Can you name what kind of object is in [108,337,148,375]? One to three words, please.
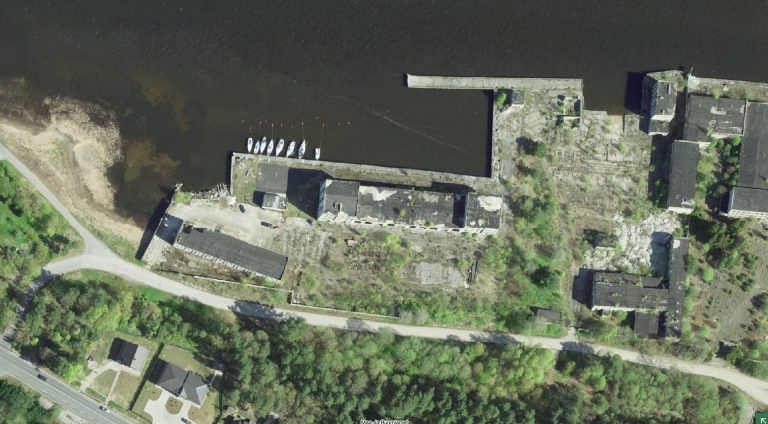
house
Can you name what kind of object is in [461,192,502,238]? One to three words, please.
building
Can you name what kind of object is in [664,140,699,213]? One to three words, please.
building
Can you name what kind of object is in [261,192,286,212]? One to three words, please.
shed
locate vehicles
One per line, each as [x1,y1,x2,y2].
[262,222,272,228]
[38,374,46,381]
[182,417,190,424]
[99,405,109,413]
[238,204,244,213]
